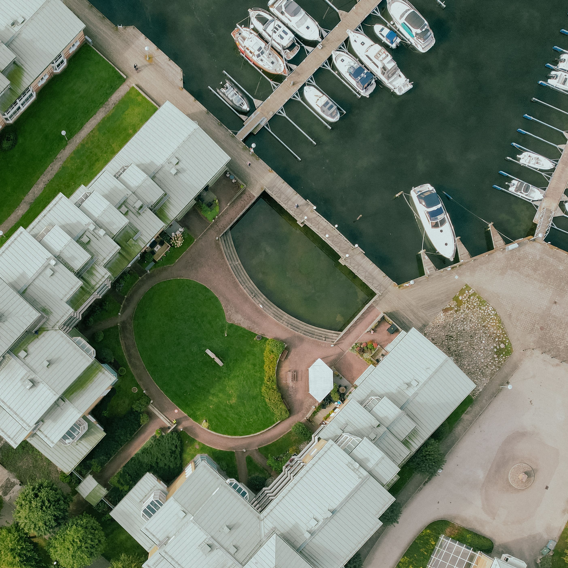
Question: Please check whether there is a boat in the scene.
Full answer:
Yes, looking at the shot, I can spot a boat.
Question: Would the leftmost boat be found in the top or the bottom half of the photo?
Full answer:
The top half of the photo is where the leftmost boat is.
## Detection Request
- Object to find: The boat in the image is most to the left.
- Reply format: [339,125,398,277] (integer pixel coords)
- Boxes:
[215,78,249,111]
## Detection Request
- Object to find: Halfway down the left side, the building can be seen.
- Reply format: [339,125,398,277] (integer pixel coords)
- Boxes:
[0,100,231,475]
